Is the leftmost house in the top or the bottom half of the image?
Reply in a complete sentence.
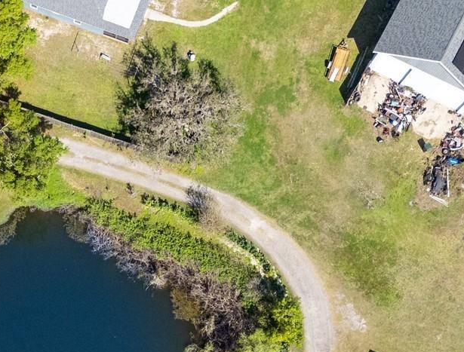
You can find the leftmost house in the top half.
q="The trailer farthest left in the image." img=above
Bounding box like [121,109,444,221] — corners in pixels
[323,34,352,80]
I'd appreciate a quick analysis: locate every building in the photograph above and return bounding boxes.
[22,0,153,55]
[359,0,464,120]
